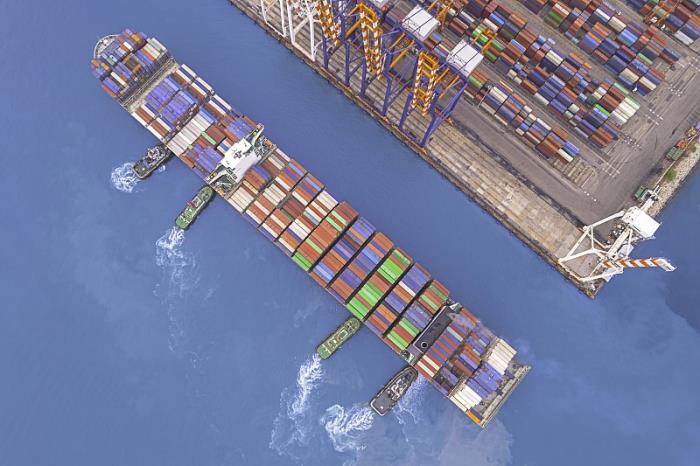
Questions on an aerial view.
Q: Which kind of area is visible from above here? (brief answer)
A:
port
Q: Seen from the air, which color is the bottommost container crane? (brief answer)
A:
white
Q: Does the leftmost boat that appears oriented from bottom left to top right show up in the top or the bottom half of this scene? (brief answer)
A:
top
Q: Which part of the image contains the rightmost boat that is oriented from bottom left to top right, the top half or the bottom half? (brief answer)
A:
bottom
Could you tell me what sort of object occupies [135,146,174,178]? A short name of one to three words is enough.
boat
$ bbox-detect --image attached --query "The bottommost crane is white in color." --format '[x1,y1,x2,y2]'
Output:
[557,180,683,282]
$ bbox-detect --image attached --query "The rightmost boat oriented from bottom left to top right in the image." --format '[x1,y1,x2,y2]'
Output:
[372,366,419,415]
